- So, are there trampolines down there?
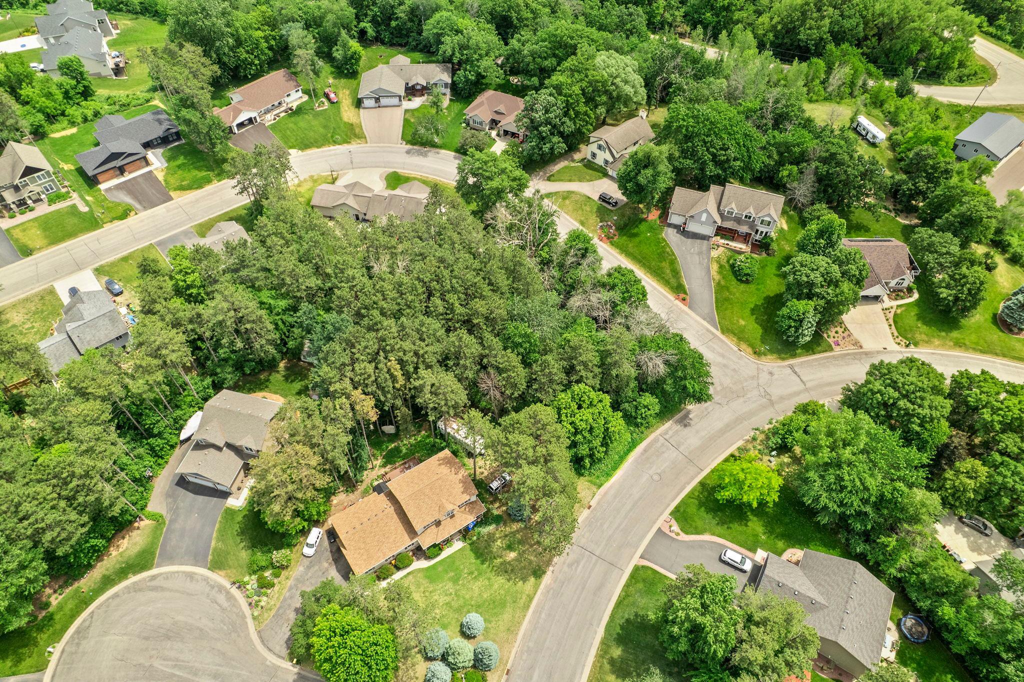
Yes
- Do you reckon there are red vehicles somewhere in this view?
Yes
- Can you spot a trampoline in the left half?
No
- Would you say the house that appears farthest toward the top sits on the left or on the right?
left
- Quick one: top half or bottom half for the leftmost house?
top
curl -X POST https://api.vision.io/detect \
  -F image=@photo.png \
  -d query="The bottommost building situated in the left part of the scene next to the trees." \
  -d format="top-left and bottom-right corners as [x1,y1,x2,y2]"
[329,452,487,575]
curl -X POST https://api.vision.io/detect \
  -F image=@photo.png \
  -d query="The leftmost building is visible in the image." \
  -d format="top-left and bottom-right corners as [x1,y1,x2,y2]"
[0,143,62,213]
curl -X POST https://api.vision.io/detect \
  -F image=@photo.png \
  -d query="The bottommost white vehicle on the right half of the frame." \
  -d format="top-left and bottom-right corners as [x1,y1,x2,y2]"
[719,549,752,574]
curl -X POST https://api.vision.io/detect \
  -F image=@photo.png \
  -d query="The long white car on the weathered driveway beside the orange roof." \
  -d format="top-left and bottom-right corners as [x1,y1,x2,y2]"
[301,523,327,562]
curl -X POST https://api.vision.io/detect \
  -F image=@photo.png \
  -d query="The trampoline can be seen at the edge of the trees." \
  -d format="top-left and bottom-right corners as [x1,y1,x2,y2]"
[897,609,938,646]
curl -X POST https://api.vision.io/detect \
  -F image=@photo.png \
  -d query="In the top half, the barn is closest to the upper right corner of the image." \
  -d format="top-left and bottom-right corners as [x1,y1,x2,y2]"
[951,114,1024,174]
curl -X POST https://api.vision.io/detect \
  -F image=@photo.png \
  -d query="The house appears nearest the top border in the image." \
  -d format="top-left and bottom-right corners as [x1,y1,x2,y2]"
[35,0,122,49]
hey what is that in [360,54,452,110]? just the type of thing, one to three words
house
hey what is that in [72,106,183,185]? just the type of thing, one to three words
house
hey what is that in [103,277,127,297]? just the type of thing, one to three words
car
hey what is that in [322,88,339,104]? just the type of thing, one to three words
vehicle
